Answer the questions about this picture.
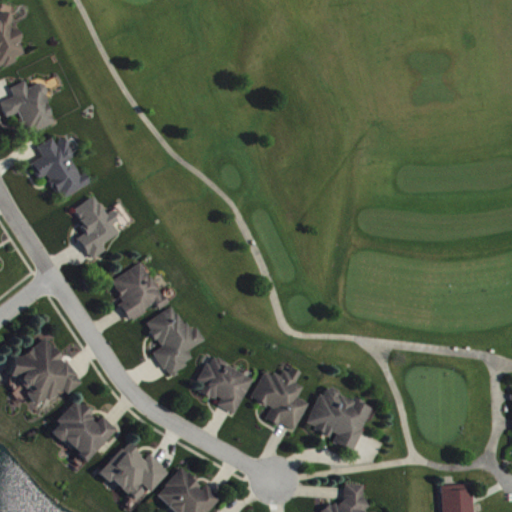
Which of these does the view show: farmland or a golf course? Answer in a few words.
golf course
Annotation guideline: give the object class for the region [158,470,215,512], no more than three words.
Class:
house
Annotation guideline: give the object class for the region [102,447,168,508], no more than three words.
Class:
house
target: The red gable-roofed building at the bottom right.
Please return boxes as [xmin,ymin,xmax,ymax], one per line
[440,483,472,512]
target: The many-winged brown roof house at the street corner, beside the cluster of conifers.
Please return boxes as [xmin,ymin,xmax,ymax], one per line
[10,336,77,403]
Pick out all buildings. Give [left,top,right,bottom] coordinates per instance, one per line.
[146,307,204,375]
[0,80,56,129]
[74,198,122,257]
[52,403,116,459]
[114,264,169,320]
[308,388,374,452]
[102,447,168,508]
[318,482,370,512]
[158,470,215,512]
[252,364,308,434]
[10,336,77,403]
[197,358,249,416]
[440,483,472,512]
[32,136,90,196]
